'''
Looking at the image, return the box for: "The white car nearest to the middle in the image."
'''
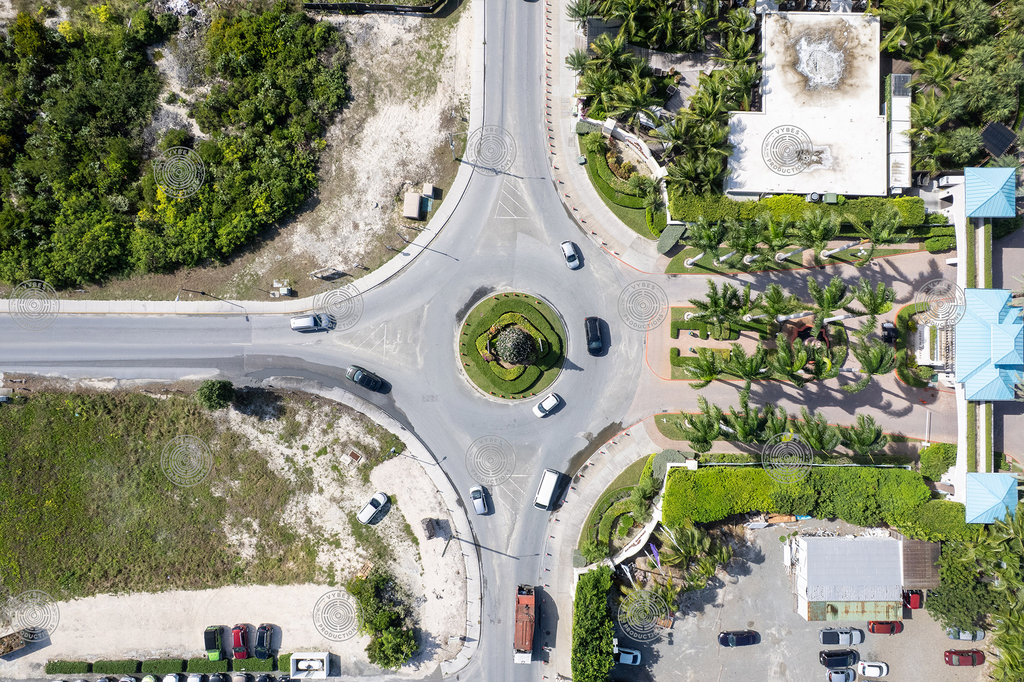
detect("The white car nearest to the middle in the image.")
[532,390,560,420]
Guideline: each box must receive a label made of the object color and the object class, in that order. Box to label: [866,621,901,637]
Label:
red car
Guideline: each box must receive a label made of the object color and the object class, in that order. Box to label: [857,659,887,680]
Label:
white car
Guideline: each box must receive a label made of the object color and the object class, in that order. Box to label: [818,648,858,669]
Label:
black car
